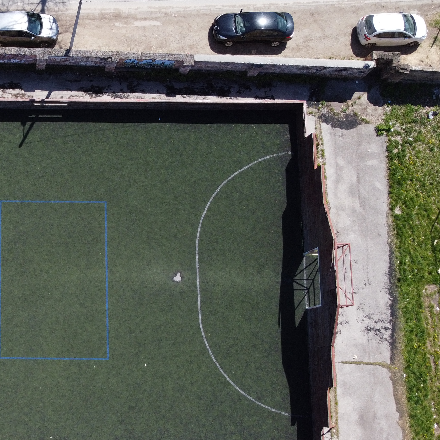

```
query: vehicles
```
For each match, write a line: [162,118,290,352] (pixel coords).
[212,7,295,47]
[355,8,426,47]
[0,9,56,48]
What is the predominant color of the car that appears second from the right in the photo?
black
